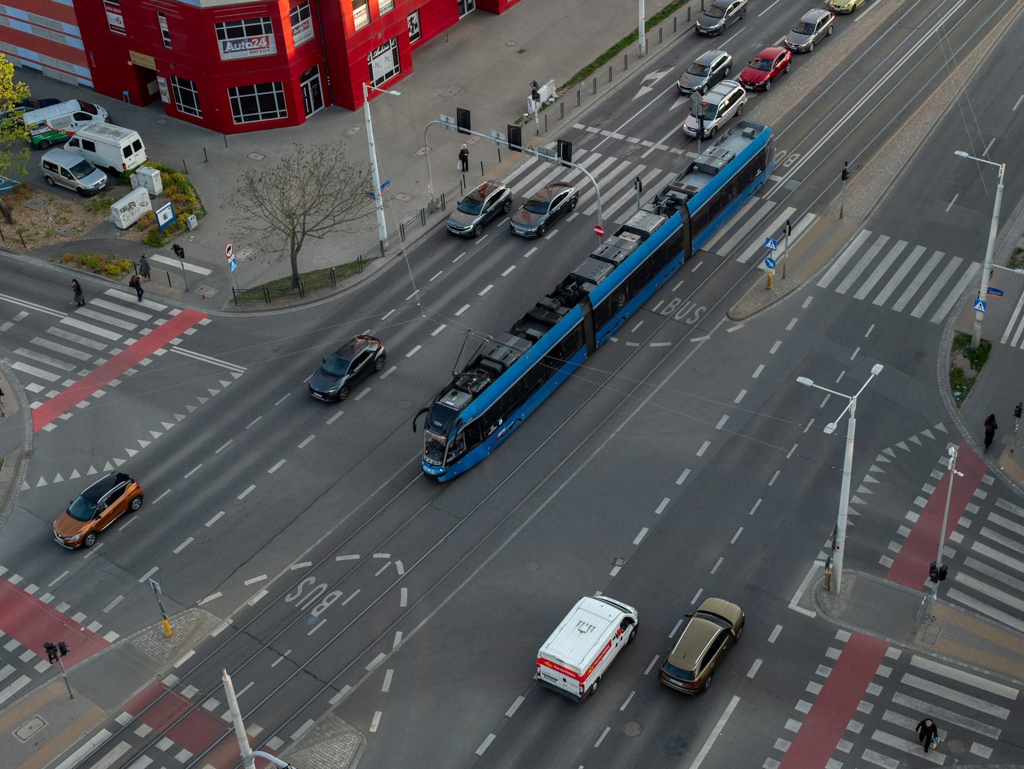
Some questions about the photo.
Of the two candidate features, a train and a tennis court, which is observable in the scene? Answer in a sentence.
I can see a train in this picture.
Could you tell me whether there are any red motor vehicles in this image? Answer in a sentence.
Yes, a red motor vehicle is visible in the scene.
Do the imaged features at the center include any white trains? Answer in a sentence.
No, I see no white train at the center.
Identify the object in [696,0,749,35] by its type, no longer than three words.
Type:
car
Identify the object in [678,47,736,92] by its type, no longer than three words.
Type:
car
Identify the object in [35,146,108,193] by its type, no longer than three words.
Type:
vehicle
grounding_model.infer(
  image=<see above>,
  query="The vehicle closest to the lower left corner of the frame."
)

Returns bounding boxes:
[49,471,145,548]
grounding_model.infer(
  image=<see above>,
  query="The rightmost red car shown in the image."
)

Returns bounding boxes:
[739,46,796,90]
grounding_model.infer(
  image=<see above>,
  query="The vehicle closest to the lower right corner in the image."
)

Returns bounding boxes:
[655,599,745,698]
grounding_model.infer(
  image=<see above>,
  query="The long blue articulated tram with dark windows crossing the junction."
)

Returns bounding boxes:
[402,124,771,482]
